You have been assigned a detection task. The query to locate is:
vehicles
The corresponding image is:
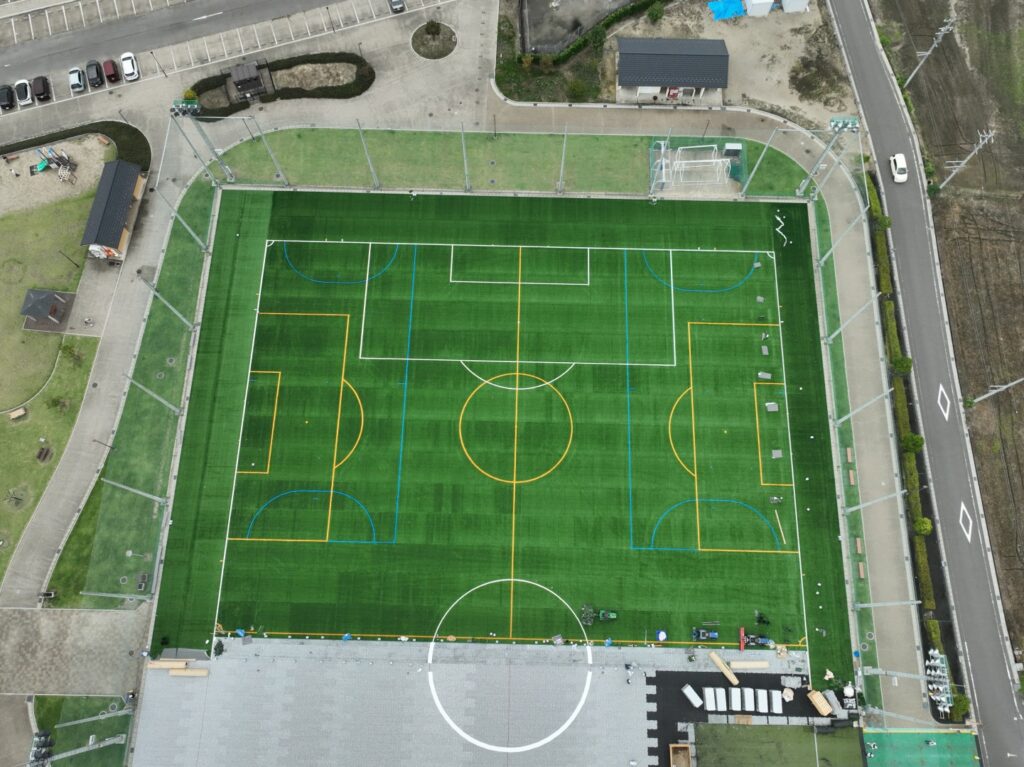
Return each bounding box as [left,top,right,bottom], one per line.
[68,68,86,94]
[103,61,120,84]
[15,81,34,108]
[32,77,51,103]
[581,603,622,624]
[86,61,105,89]
[888,154,908,184]
[121,53,140,82]
[0,84,16,113]
[740,624,774,651]
[691,625,722,642]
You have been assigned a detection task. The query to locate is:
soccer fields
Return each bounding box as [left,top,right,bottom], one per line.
[132,190,858,767]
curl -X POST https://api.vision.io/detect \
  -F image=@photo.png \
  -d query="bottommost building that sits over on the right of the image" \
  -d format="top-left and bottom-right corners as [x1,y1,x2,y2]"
[615,36,730,105]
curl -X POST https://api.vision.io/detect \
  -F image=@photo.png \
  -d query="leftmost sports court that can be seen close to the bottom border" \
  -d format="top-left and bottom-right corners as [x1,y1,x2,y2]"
[695,724,866,767]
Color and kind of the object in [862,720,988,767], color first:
green sports court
